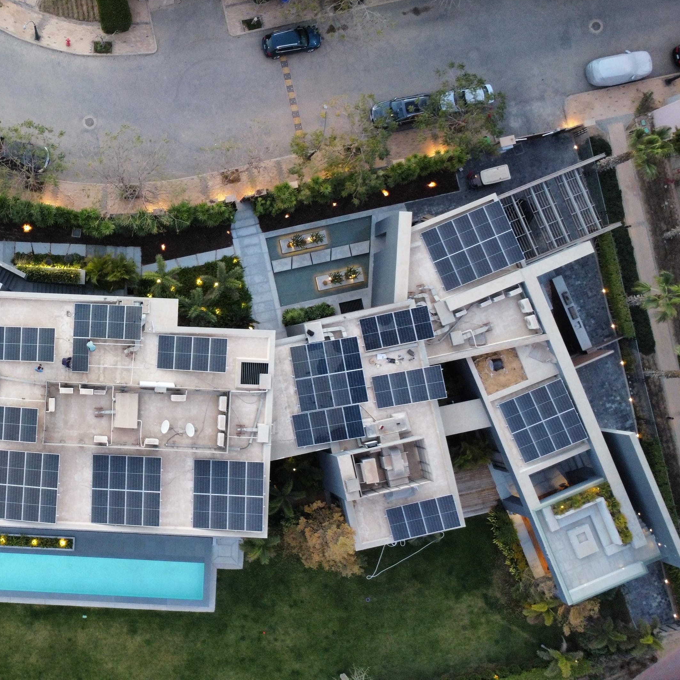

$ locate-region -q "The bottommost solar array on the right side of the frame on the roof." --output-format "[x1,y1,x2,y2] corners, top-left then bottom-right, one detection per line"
[385,494,460,541]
